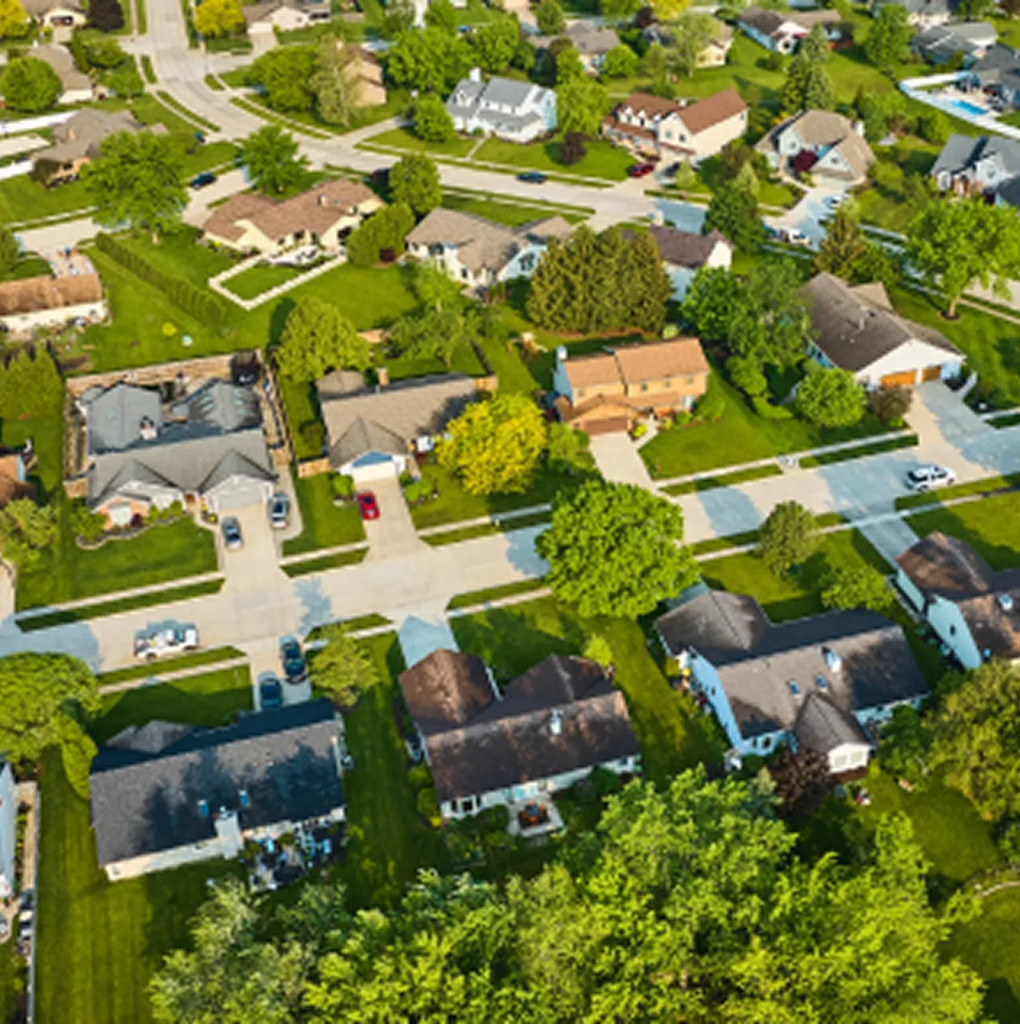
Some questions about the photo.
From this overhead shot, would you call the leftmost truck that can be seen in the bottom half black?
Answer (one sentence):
No, the color of the leftmost truck that can be seen in the bottom half is white.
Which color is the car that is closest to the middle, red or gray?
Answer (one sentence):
In this view, the car that is closest to the middle is red.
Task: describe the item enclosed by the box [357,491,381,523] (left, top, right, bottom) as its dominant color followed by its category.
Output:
red car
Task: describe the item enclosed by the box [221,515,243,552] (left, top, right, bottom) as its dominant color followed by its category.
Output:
gray car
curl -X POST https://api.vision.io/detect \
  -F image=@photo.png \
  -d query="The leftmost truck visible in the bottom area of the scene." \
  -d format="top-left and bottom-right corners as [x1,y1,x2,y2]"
[133,625,201,658]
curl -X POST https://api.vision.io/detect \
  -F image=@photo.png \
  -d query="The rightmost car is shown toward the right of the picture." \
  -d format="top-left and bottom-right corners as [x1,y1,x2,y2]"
[906,467,955,492]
